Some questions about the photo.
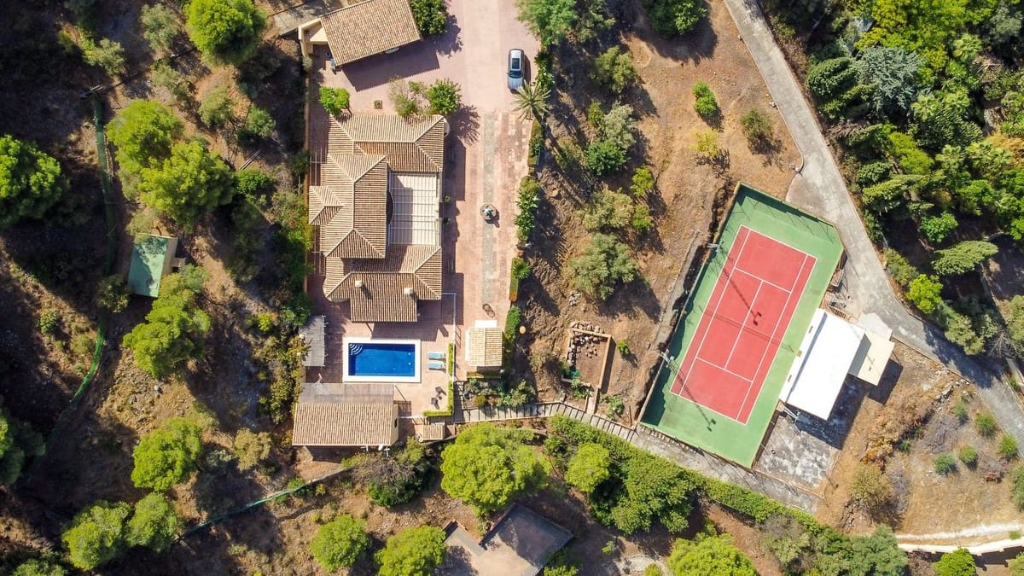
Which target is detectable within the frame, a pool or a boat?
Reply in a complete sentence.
The one in the frame is a pool.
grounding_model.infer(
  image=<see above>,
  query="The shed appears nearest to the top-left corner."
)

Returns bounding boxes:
[128,234,185,297]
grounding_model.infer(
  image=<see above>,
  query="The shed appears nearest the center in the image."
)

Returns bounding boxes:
[464,320,503,372]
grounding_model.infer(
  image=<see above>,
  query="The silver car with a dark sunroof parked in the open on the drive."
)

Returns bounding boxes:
[506,49,525,91]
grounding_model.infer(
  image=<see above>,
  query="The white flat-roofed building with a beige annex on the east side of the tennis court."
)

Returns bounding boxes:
[768,308,895,419]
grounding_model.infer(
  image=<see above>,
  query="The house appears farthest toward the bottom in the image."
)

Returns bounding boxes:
[490,508,573,576]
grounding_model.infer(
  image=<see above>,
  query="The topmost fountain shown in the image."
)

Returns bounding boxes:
[481,205,498,222]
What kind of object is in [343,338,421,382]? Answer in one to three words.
swimming pool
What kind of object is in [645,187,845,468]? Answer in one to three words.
tennis court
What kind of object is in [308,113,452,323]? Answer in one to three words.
house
